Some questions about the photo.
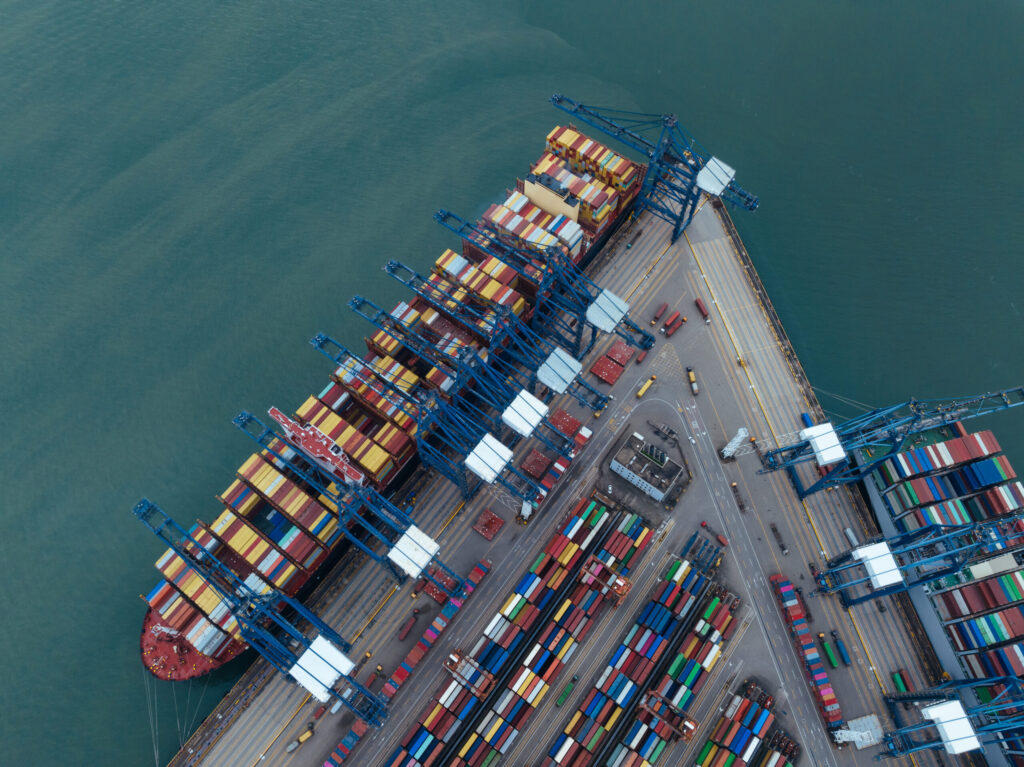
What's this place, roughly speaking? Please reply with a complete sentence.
This looks like a port.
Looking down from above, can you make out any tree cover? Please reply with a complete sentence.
No, no tree cover is visible.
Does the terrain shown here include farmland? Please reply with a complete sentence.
No, farmland can't be seen anywhere here.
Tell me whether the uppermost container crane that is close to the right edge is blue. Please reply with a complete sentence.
Yes, the uppermost container crane that is close to the right edge is blue.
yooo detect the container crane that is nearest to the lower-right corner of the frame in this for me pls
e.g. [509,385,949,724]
[881,670,1024,757]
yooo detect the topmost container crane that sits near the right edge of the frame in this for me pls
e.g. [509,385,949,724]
[763,387,1024,503]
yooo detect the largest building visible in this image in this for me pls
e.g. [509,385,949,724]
[610,429,684,501]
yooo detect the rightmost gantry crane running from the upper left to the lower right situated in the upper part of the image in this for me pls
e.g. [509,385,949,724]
[547,92,759,243]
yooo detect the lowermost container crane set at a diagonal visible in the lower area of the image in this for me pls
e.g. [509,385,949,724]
[632,686,699,746]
